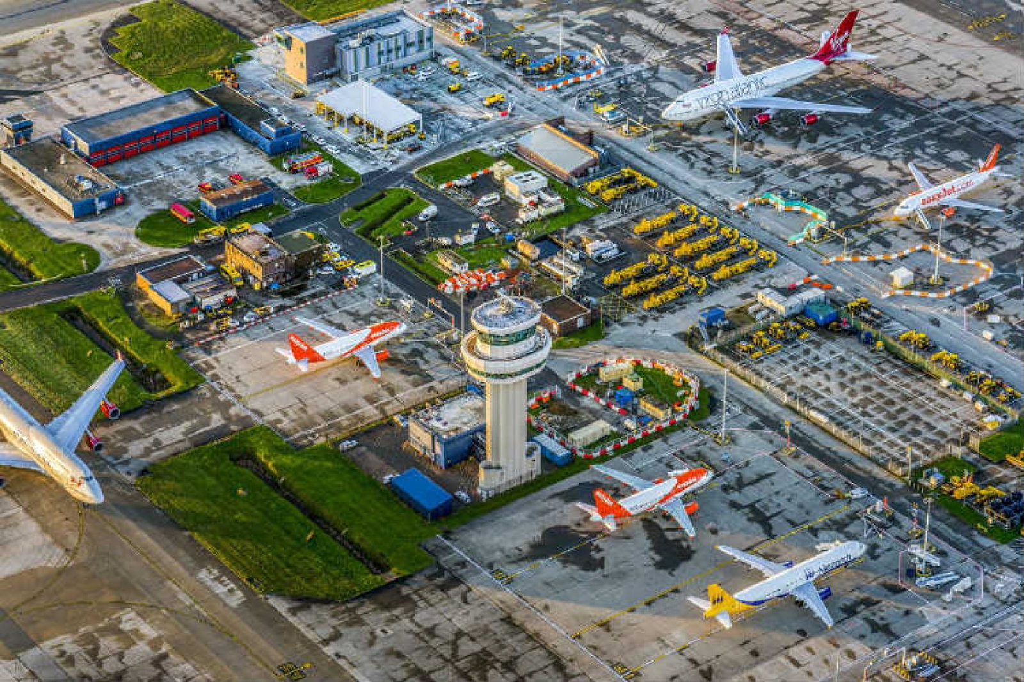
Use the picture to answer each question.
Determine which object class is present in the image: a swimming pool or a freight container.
freight container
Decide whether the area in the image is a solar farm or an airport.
airport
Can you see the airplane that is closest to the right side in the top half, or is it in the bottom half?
top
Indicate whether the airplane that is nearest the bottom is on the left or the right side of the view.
right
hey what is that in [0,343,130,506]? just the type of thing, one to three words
airplane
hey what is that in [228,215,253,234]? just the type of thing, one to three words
vehicle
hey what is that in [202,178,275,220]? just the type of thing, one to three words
shed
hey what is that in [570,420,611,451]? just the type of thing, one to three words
shipping container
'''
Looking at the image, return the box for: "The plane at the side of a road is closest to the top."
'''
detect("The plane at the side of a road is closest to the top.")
[661,6,888,129]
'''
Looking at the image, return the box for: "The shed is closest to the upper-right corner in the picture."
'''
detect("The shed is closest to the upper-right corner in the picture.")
[890,268,913,290]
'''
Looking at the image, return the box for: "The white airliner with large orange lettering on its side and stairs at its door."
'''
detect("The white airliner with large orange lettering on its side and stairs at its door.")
[895,147,1012,220]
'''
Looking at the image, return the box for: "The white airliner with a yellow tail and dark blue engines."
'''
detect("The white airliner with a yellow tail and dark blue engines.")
[684,540,866,626]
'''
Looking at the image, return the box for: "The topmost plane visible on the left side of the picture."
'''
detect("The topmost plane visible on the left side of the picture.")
[269,316,407,378]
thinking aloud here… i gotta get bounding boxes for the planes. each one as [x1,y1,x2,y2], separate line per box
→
[684,540,866,626]
[661,6,888,129]
[269,316,407,378]
[569,464,714,539]
[0,343,130,506]
[895,147,1012,220]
